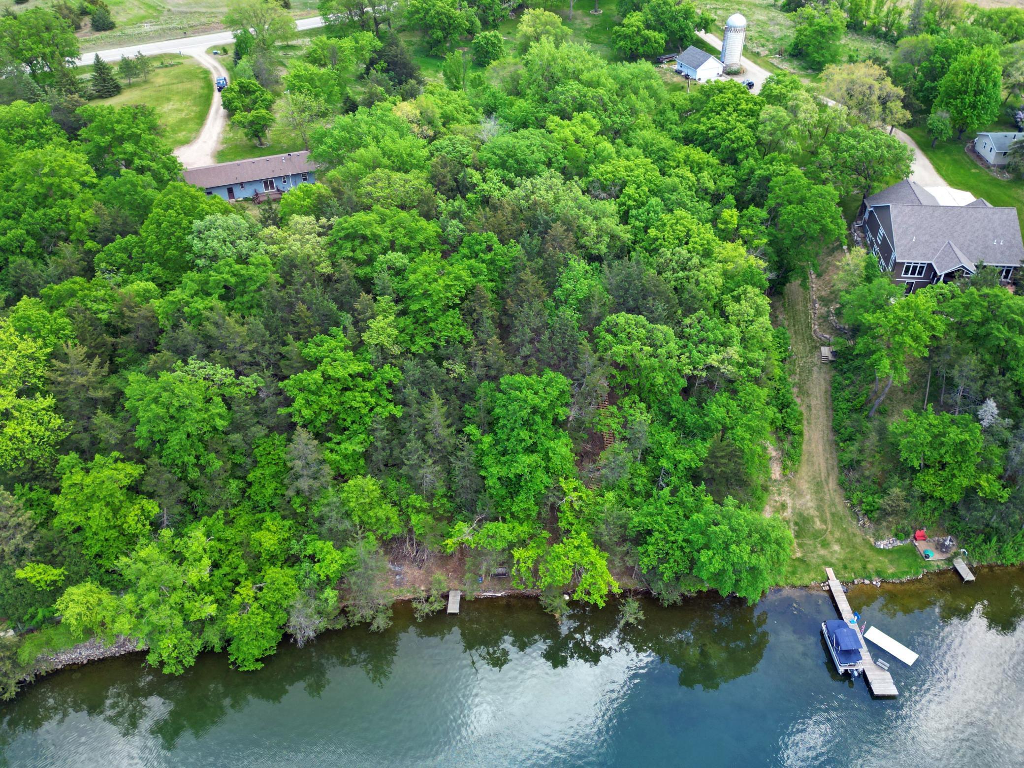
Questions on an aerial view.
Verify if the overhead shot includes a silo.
Yes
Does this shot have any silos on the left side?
No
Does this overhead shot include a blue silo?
No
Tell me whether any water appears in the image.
Yes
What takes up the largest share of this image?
trees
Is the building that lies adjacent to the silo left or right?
right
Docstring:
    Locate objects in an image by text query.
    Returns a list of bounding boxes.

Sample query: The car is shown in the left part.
[213,76,228,89]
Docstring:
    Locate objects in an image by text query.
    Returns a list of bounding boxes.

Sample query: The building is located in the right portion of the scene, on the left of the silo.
[666,48,722,82]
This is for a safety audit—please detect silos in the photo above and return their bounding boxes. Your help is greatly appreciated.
[722,16,750,72]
